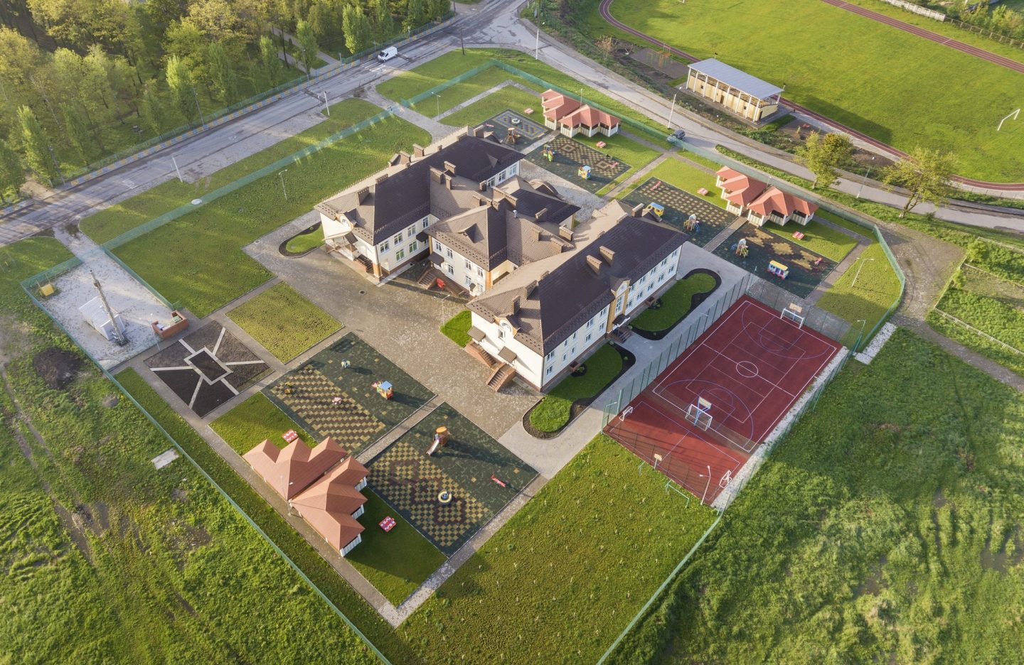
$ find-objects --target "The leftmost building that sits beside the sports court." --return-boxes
[313,125,690,391]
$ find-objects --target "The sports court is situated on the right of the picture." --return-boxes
[603,295,842,504]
